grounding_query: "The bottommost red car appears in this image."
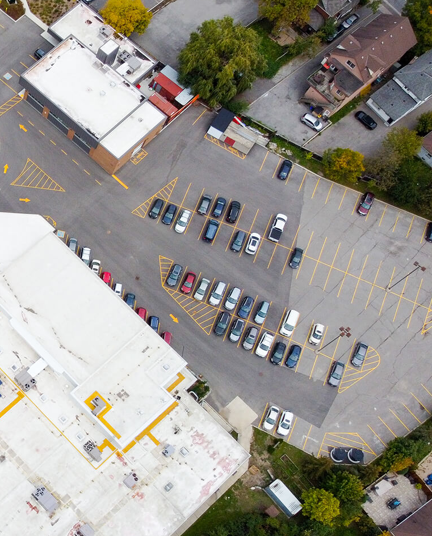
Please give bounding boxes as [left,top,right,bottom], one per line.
[161,329,173,348]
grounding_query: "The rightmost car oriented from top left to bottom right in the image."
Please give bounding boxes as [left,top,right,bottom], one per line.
[353,110,378,131]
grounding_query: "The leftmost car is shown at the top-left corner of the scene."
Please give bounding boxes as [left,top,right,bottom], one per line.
[29,45,48,59]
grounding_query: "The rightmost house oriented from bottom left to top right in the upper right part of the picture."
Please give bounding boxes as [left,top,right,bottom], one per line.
[363,49,432,131]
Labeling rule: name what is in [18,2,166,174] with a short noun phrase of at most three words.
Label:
building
